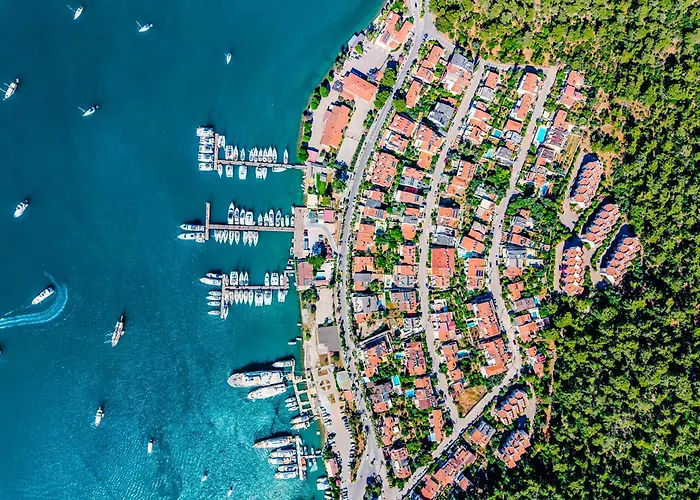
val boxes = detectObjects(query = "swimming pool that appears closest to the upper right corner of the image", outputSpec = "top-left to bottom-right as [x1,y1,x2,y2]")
[535,125,549,144]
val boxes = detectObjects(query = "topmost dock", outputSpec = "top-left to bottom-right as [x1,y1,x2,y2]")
[213,133,306,170]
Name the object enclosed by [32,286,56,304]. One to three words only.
boat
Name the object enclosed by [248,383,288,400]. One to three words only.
ship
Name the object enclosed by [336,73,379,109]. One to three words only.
building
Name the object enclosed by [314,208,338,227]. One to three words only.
building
